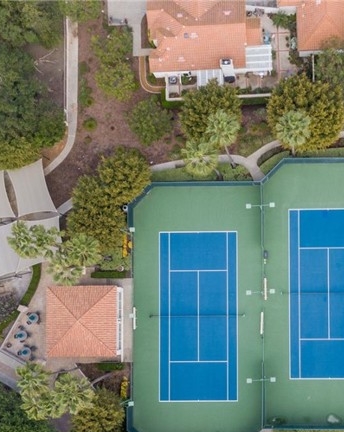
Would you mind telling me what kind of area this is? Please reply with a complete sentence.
This image shows a sports ground.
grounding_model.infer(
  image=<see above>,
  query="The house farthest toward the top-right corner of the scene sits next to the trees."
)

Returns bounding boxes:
[277,0,344,54]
